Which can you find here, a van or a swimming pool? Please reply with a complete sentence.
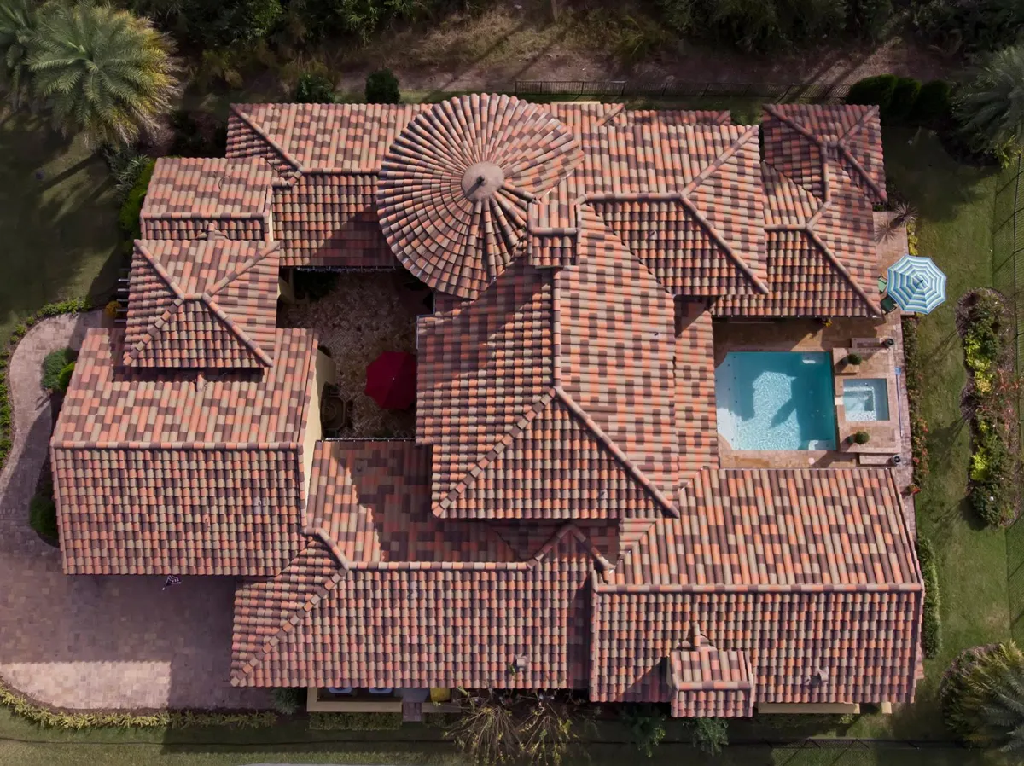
It is a swimming pool that can be seen here.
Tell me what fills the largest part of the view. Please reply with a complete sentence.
The largest share of the image is taken up by buildings.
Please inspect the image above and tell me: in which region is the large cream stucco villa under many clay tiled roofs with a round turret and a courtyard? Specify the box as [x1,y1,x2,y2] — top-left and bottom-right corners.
[48,94,926,718]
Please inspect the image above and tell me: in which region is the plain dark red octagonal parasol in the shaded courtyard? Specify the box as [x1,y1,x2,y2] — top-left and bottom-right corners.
[366,354,412,409]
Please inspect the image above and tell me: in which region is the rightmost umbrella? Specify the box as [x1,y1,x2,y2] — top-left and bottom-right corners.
[881,258,942,313]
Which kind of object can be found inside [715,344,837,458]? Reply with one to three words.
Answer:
swimming pool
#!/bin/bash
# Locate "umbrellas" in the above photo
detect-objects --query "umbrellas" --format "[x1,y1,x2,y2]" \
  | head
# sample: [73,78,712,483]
[881,258,942,313]
[366,354,412,409]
